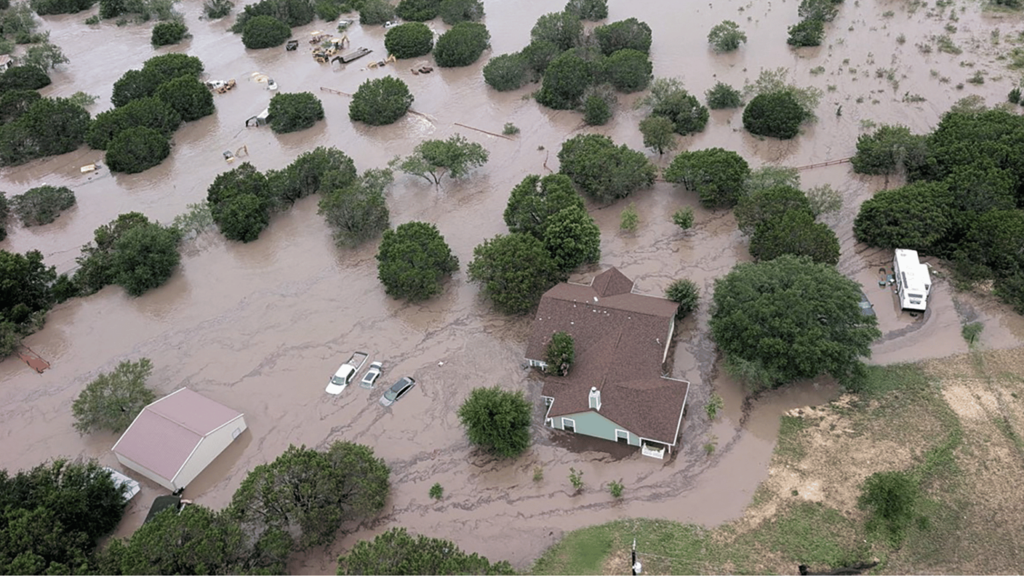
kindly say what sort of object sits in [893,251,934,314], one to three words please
vehicle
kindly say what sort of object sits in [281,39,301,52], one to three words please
vehicle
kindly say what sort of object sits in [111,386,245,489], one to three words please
barn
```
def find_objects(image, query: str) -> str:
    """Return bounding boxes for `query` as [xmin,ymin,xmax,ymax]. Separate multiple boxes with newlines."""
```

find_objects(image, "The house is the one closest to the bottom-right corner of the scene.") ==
[525,266,690,450]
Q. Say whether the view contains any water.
Yes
